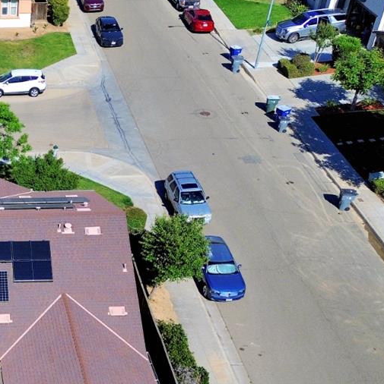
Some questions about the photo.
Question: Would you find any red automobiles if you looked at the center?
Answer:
No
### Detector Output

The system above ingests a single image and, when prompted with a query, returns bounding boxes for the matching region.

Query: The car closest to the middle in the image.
[163,165,211,219]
